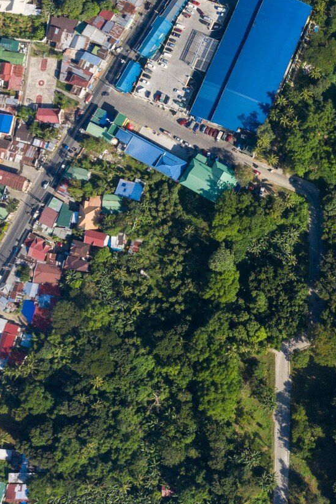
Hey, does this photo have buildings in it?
Yes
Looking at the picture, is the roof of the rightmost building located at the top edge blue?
Yes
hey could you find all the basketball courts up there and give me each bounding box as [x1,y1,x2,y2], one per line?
[21,58,57,104]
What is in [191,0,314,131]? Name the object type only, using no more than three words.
building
